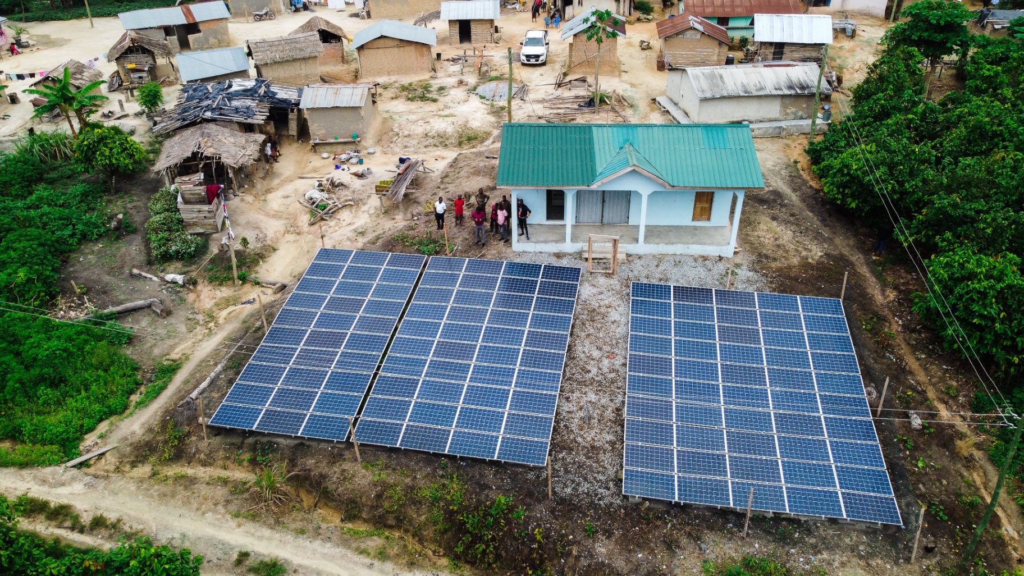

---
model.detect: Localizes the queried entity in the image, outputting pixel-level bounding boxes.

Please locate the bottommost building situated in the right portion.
[495,123,764,261]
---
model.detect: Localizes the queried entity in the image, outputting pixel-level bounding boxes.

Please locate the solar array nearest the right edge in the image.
[622,283,903,532]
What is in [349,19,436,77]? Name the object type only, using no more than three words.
shed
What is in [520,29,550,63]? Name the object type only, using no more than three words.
truck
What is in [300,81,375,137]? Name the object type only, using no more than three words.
shed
